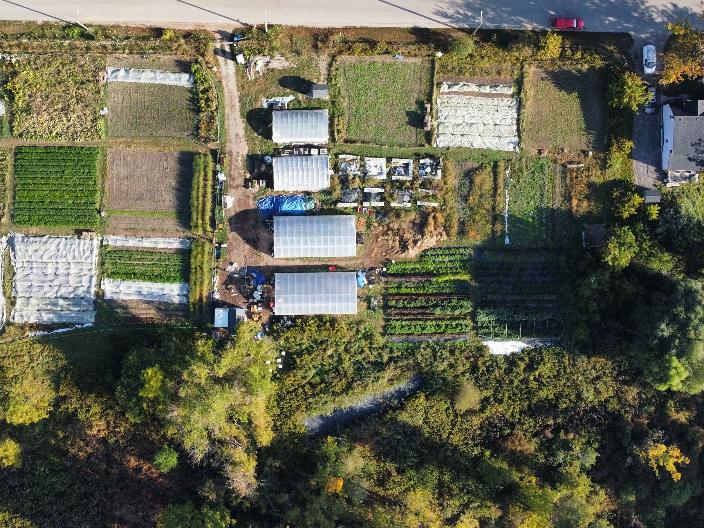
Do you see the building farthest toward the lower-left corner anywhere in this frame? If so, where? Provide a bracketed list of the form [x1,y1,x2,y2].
[214,306,229,326]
